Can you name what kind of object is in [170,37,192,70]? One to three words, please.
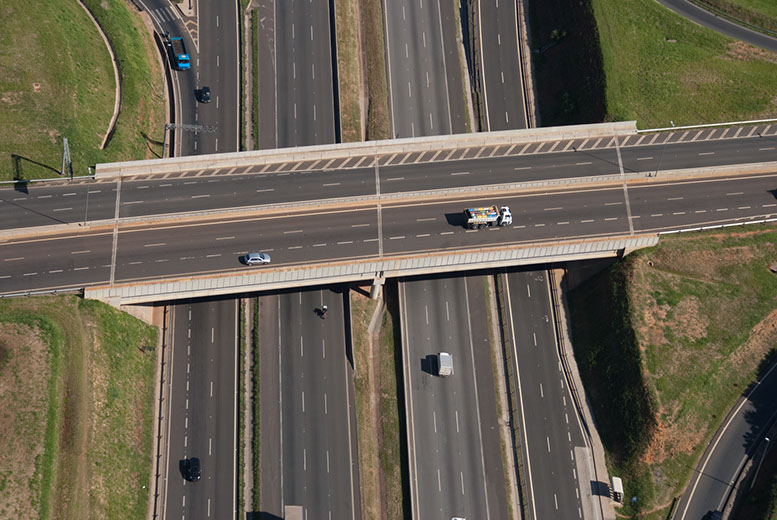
truck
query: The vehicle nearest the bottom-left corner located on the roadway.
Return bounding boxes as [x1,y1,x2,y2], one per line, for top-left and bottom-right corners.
[188,458,202,481]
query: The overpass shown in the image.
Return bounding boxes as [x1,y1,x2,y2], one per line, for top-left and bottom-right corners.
[86,121,659,323]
